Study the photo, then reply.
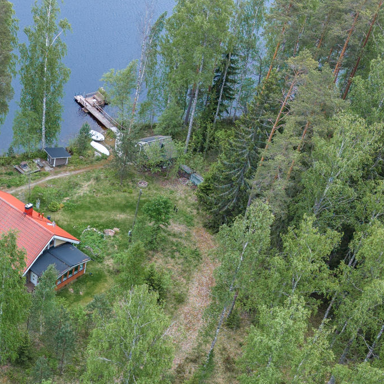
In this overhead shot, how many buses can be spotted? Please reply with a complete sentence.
There are no buses in this view.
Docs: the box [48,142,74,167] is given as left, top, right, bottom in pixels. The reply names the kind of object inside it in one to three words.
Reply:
shed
